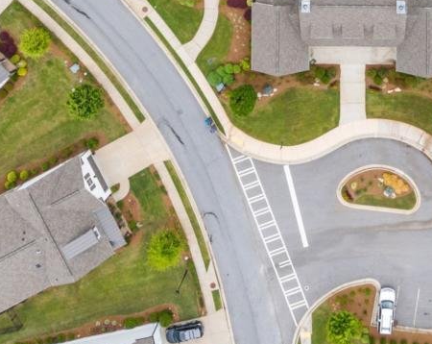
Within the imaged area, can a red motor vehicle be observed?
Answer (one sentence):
No, I can't see a single red motor vehicle in this photo.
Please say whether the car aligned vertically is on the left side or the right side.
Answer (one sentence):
The car aligned vertically sits on the right side.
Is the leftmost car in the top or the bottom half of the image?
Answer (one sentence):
Seen from above, the leftmost car lies in the bottom half of the view.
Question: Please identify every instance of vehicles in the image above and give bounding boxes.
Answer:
[377,291,397,335]
[165,322,206,344]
